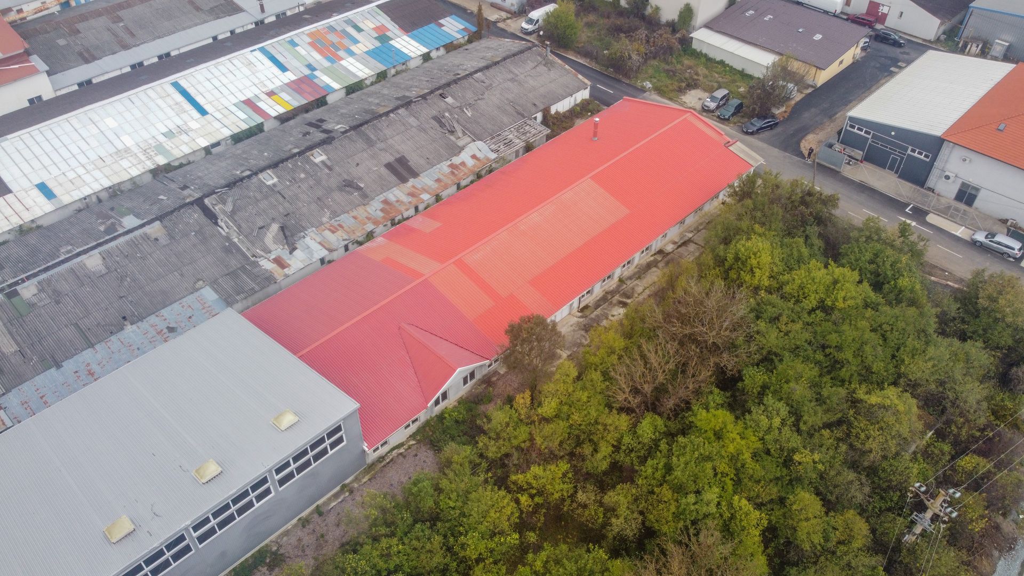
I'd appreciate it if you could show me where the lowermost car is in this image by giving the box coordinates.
[973,230,1024,260]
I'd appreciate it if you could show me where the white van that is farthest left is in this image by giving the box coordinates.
[527,0,559,31]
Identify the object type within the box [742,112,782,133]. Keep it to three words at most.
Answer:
car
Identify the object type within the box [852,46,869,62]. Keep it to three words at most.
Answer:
car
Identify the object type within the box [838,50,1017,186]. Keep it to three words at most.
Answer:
building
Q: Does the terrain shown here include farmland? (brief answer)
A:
No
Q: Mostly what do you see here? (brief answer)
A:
buildings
